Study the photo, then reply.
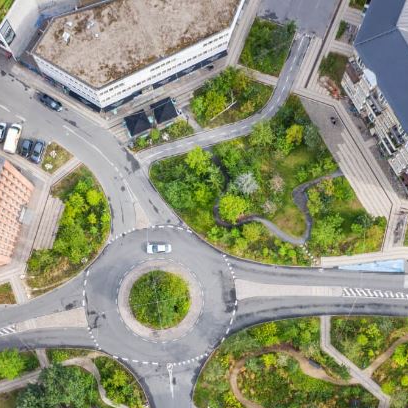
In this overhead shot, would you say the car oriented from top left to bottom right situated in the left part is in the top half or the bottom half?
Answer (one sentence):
You can find the car oriented from top left to bottom right situated in the left part in the top half.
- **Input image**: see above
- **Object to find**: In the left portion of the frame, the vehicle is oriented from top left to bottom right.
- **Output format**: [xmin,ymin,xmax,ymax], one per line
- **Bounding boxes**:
[38,92,64,113]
